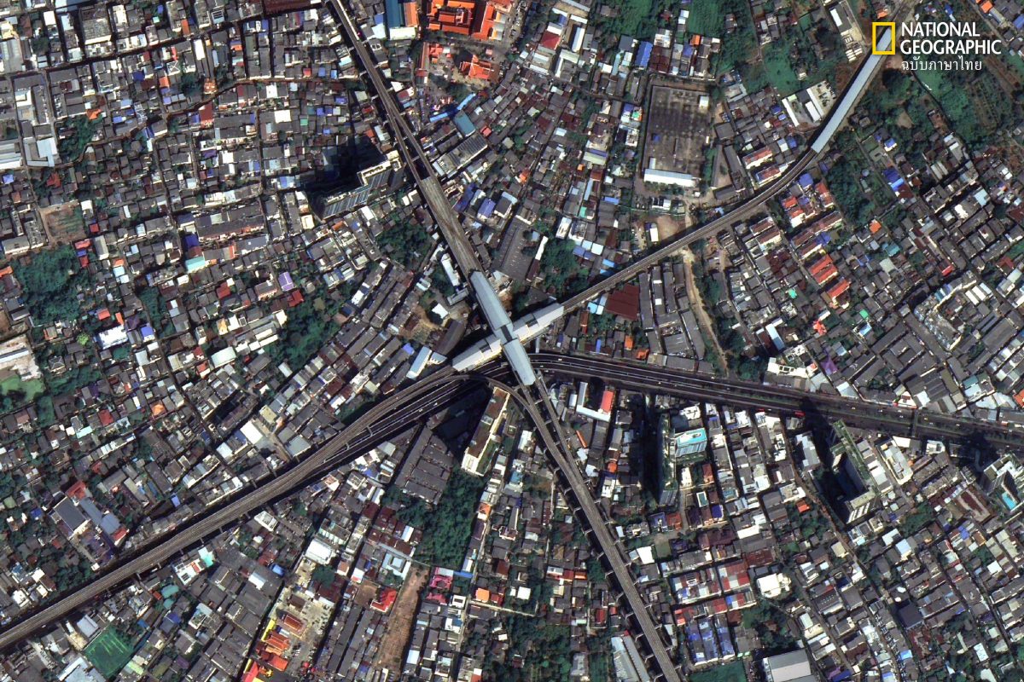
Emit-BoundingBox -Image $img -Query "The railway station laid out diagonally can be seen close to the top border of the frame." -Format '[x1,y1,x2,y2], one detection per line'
[811,29,895,151]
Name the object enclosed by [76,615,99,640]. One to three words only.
building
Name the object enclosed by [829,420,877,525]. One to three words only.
building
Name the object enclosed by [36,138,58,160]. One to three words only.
house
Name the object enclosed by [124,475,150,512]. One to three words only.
house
